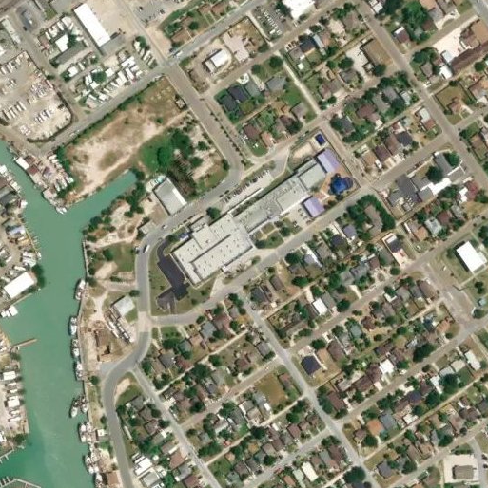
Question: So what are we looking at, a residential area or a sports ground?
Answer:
residential area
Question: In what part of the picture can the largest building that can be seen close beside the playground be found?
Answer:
center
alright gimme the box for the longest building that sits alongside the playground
[173,160,326,284]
